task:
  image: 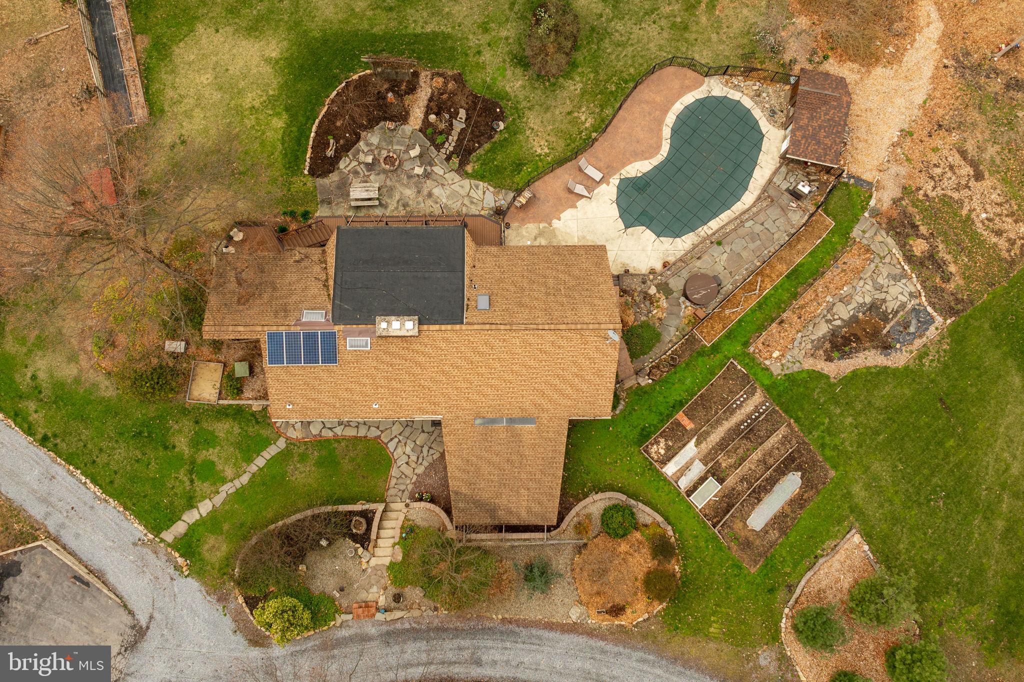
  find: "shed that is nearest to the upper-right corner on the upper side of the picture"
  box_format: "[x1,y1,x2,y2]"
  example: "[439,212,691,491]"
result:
[776,67,851,172]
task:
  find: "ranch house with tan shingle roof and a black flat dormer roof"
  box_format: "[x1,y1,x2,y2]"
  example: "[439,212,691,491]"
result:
[202,226,621,525]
